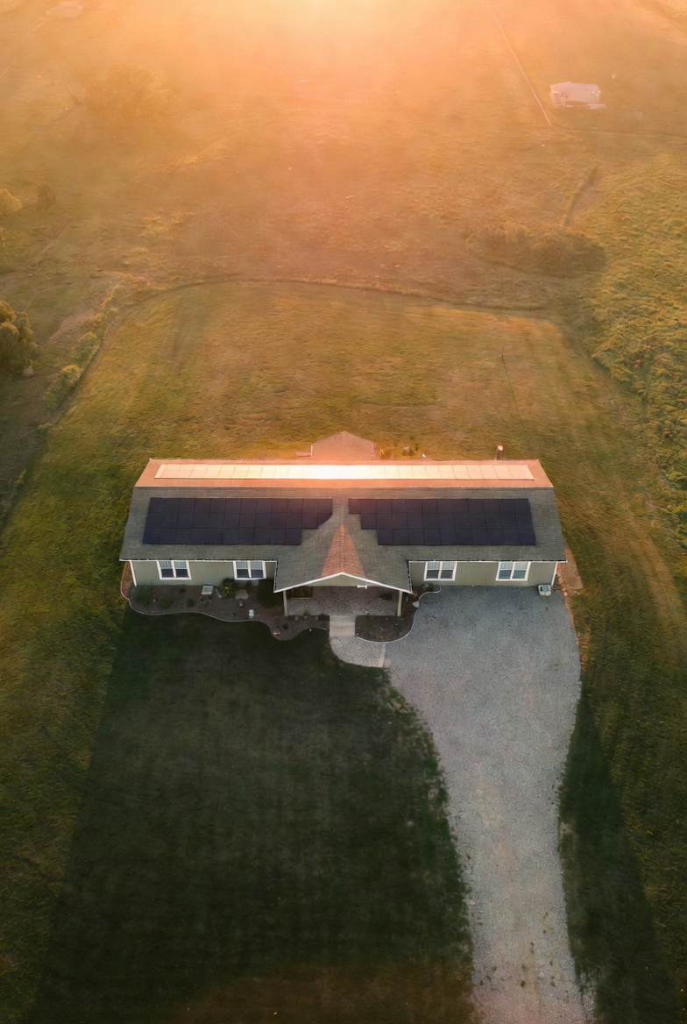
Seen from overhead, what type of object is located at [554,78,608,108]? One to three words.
barn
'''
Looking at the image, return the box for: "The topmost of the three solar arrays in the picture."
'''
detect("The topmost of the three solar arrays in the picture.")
[153,464,535,477]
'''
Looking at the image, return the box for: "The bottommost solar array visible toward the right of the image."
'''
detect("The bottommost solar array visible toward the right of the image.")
[349,496,536,543]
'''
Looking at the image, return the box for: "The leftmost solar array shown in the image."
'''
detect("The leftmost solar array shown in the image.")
[143,496,332,543]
